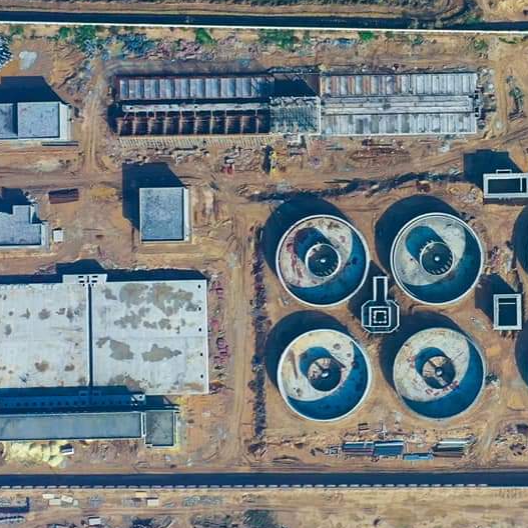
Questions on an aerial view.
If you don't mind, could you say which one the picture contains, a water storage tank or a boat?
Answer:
water storage tank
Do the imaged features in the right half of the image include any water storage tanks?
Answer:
Yes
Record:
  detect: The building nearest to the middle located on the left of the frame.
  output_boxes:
[140,187,192,244]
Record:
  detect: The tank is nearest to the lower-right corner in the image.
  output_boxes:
[393,325,485,419]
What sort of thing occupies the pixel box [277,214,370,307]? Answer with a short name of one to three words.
water tank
